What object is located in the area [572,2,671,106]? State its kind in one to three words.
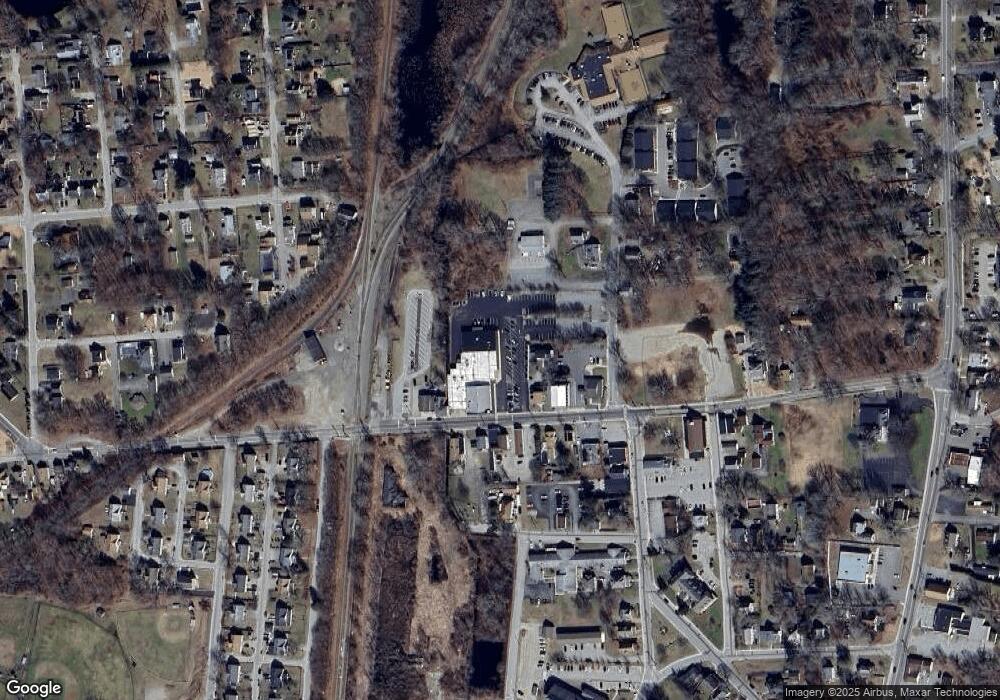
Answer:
building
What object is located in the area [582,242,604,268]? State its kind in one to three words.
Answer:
house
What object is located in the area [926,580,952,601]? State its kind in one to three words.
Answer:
building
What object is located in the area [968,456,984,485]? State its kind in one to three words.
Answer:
shed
